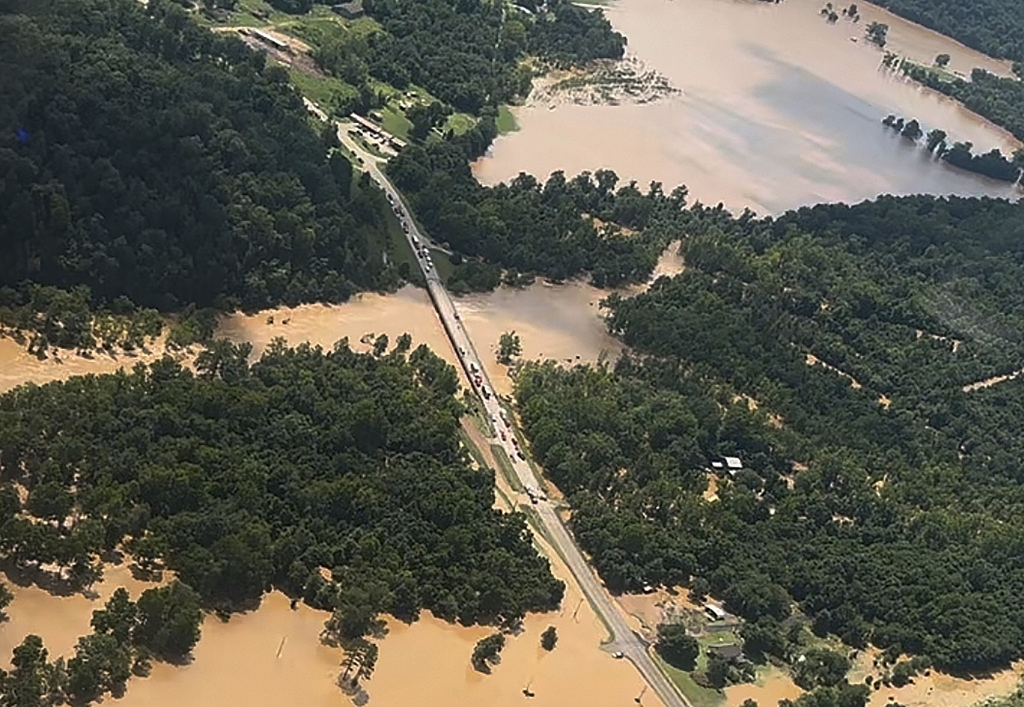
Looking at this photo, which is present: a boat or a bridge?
bridge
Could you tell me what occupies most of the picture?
trees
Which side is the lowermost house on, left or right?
right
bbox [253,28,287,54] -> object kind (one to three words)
barn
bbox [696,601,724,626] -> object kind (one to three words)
house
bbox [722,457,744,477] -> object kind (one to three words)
building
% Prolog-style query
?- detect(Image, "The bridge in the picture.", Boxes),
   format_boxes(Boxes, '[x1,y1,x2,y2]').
[422,273,504,401]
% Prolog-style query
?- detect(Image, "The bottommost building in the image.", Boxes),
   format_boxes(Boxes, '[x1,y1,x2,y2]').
[700,642,744,672]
